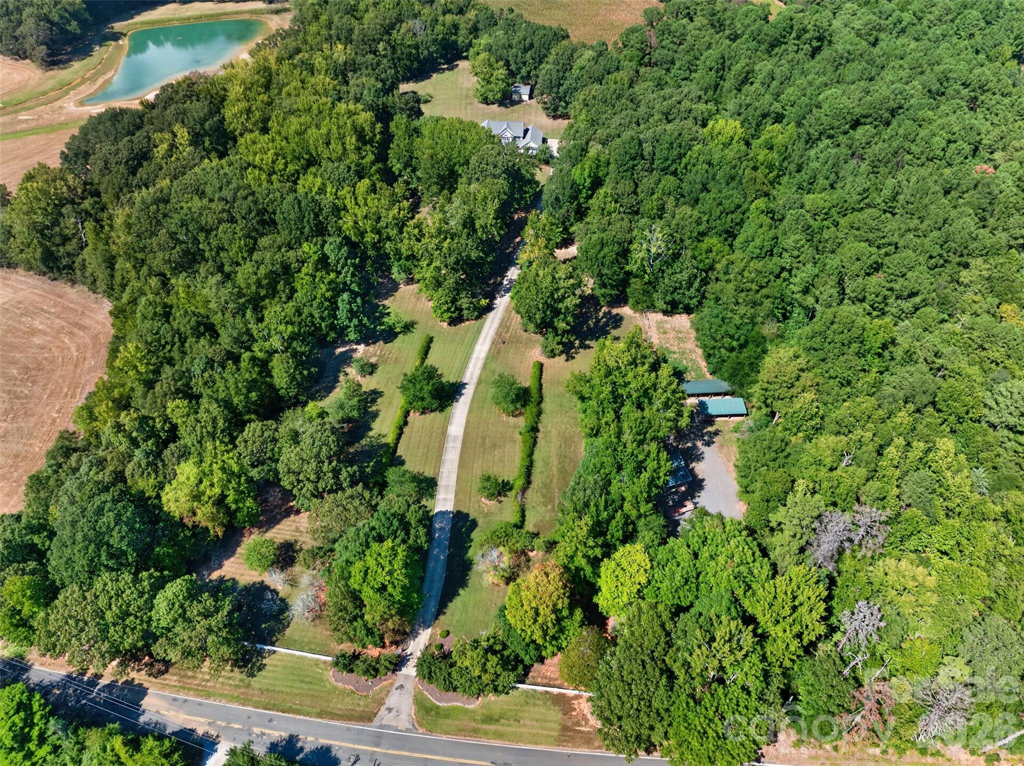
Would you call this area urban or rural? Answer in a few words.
rural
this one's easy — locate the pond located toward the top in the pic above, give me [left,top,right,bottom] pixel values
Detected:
[79,17,273,105]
